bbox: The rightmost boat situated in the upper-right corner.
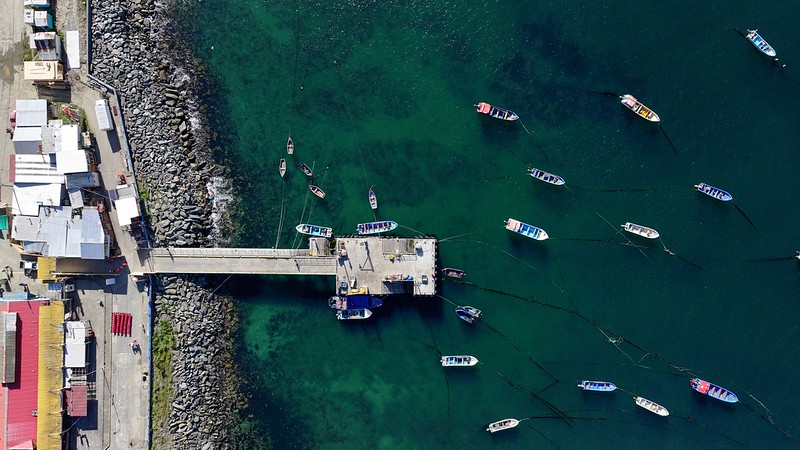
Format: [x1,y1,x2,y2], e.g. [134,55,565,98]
[745,30,777,56]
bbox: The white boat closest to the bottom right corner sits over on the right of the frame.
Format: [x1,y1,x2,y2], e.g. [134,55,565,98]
[630,395,670,415]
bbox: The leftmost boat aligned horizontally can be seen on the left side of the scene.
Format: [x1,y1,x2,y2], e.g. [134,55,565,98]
[295,223,334,238]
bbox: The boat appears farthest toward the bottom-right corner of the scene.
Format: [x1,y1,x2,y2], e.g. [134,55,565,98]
[686,376,739,403]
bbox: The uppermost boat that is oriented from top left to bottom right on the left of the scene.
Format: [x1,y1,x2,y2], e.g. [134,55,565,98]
[301,163,314,177]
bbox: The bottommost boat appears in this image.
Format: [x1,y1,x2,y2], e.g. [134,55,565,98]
[483,418,520,434]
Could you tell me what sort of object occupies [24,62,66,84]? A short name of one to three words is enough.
building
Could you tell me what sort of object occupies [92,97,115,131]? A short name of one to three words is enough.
truck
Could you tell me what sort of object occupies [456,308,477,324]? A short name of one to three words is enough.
boat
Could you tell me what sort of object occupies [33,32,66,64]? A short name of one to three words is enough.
house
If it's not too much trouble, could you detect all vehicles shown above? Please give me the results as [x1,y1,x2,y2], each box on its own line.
[5,106,16,126]
[92,97,115,131]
